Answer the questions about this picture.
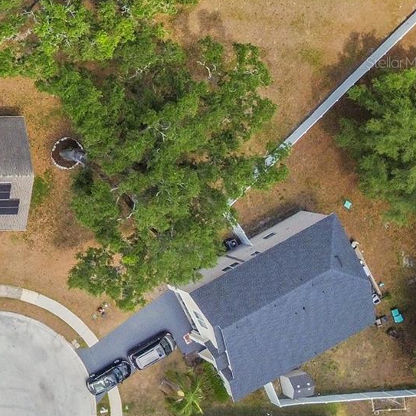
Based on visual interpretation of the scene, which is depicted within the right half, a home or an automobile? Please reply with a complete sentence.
The feature located within the right half is a home.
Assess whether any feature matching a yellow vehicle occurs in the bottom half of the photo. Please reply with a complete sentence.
No, I see no yellow vehicle in the bottom half of the photo.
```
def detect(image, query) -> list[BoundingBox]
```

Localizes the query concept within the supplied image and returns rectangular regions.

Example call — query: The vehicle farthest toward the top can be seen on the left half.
[123,332,175,370]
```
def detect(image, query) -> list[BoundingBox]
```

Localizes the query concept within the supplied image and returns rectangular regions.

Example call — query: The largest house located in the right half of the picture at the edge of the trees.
[174,212,376,403]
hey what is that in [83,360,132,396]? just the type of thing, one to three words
car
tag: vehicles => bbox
[83,360,132,396]
[123,332,175,370]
